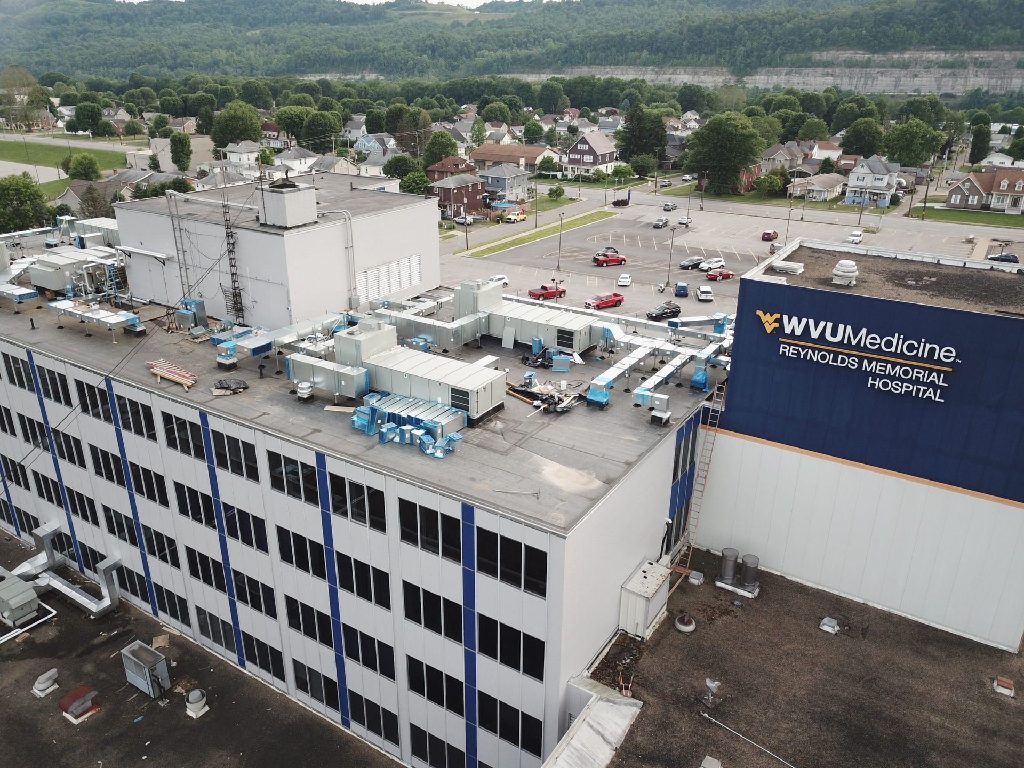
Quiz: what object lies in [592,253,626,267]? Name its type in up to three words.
vehicle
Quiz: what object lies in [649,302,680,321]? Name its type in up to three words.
car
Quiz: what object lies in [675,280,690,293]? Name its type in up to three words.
vehicle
